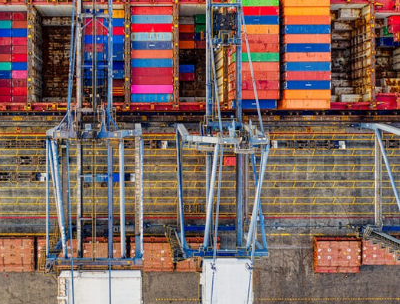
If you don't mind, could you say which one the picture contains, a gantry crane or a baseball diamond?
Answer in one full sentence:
Looking from above, you can make out a gantry crane.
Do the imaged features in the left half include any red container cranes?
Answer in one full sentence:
No, there's no red container crane to be seen in the left half.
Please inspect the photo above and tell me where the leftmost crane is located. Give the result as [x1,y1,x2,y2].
[39,0,148,304]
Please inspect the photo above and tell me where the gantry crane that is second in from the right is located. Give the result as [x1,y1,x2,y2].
[150,0,273,304]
